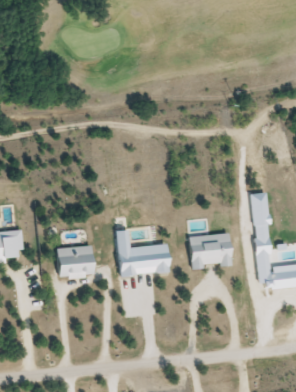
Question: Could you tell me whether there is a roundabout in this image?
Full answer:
No, this view has no roundabout in it.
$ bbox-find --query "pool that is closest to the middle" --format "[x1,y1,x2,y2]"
[126,226,152,242]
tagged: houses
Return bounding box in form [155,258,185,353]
[116,230,172,278]
[250,193,296,290]
[190,233,234,270]
[56,245,96,280]
[0,230,24,262]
